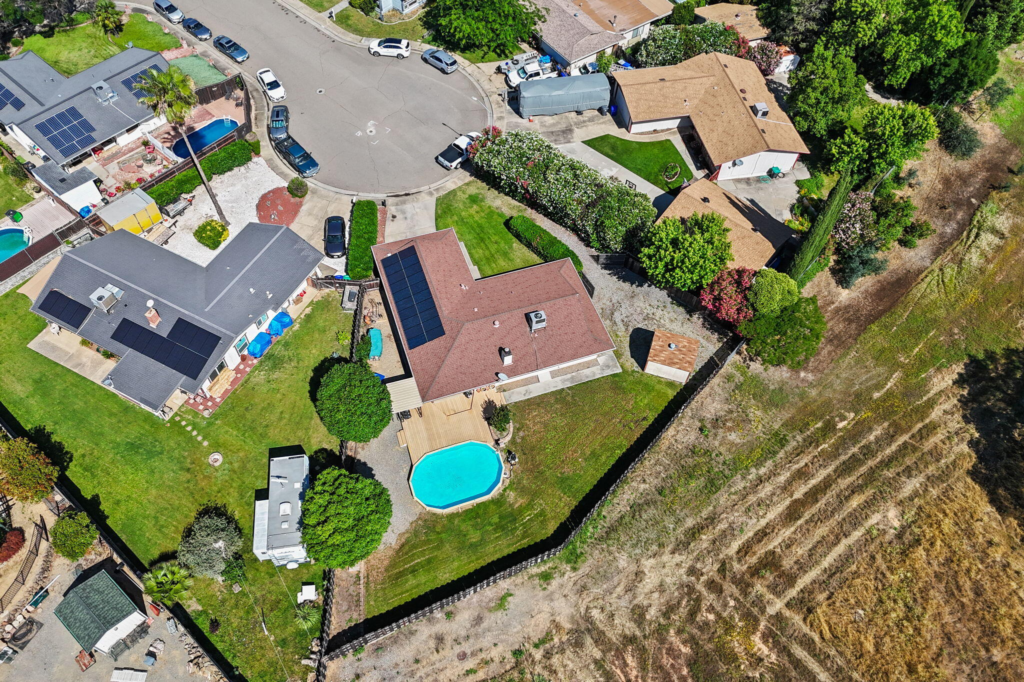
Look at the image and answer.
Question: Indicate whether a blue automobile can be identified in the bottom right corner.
No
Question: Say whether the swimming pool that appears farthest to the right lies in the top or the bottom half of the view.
bottom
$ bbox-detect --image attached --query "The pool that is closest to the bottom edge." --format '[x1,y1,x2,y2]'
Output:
[409,440,505,518]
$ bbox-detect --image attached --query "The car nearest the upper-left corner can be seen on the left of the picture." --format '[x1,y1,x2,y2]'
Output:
[156,0,184,23]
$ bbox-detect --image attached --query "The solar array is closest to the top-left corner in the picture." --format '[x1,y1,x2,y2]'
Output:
[0,84,23,115]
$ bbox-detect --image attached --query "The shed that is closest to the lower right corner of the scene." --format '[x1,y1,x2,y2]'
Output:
[644,329,700,387]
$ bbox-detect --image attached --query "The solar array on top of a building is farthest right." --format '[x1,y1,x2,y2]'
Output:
[380,245,445,348]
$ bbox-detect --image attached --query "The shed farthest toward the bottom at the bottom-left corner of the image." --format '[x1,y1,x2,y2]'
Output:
[53,570,146,658]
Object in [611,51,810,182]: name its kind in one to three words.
house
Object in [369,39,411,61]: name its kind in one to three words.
car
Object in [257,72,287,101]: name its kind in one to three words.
car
